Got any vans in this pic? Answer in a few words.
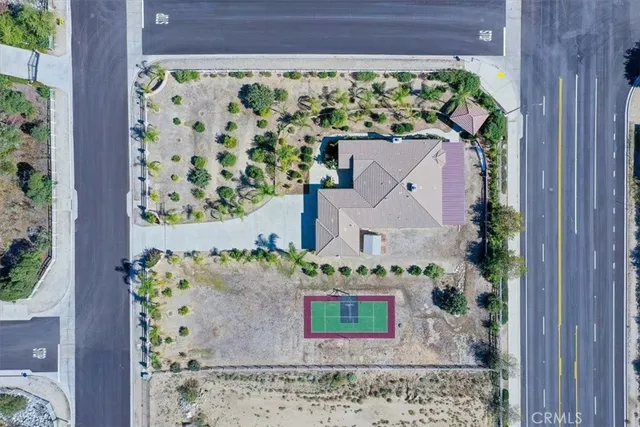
No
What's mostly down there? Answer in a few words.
paved ground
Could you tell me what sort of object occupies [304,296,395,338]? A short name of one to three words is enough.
sports court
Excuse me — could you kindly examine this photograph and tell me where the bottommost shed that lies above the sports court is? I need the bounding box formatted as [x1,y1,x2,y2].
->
[363,234,381,255]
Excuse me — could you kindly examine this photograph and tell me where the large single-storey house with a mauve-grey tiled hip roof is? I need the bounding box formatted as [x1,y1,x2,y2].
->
[315,138,464,256]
